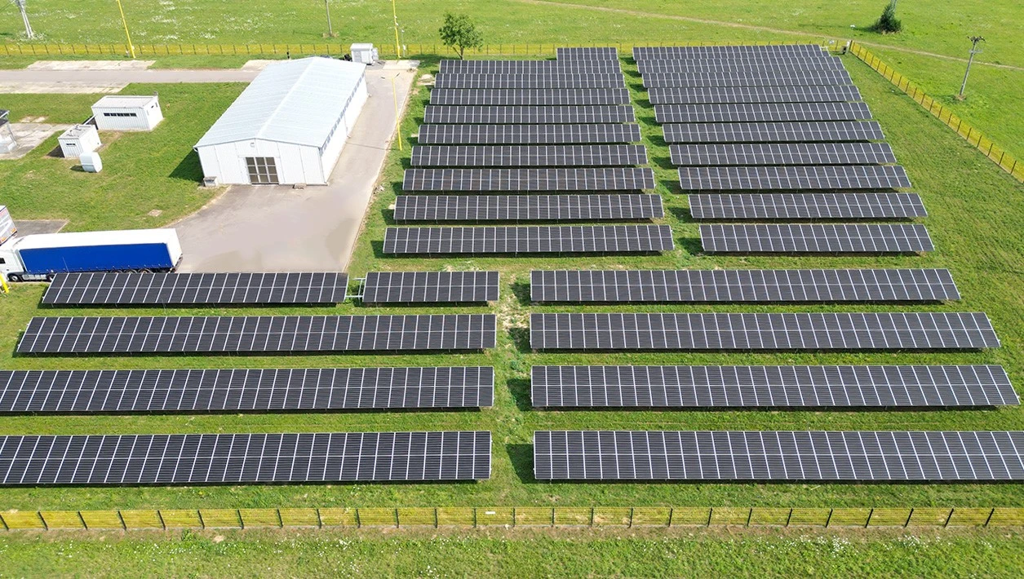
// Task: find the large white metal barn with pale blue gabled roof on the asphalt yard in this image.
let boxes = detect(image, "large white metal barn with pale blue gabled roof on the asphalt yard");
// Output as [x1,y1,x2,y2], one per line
[193,55,372,184]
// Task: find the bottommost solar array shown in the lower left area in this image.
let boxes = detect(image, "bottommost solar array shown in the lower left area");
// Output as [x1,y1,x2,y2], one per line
[0,431,493,487]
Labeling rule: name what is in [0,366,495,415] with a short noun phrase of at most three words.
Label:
solar array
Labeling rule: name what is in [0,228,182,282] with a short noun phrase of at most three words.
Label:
truck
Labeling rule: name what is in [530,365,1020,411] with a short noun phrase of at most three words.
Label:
solar array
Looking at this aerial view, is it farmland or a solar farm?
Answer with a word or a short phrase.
solar farm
